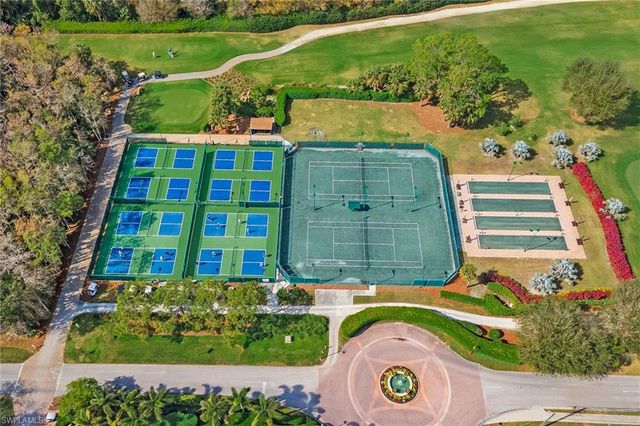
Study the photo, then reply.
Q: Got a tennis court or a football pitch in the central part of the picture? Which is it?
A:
tennis court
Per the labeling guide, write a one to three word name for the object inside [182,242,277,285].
sports court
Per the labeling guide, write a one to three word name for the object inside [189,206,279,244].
sports court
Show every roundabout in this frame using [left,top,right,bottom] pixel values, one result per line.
[318,322,491,426]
